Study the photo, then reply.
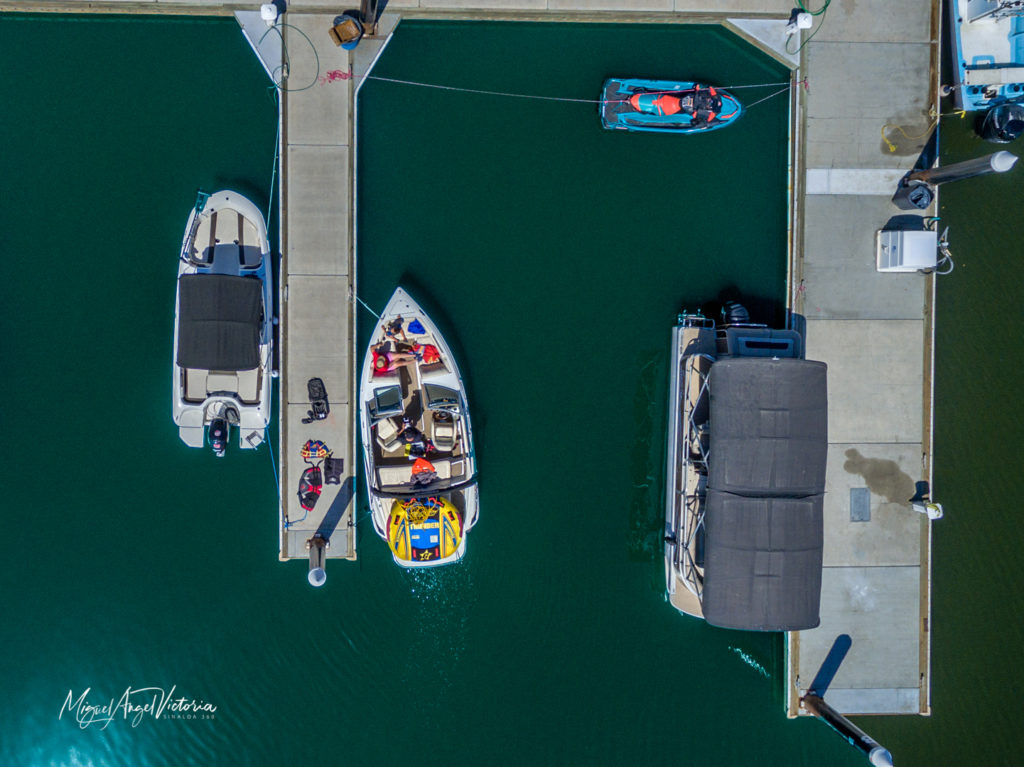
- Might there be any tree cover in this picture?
No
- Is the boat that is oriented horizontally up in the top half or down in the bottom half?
top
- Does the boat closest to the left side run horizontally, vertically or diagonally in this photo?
vertically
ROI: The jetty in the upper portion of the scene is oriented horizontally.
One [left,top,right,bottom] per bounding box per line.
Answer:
[0,0,799,30]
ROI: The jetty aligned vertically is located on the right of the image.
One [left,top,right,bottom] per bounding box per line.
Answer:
[717,0,941,718]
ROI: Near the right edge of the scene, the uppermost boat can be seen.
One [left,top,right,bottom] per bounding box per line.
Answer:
[944,0,1024,147]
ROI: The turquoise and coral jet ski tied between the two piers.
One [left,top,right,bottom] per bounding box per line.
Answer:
[599,79,742,135]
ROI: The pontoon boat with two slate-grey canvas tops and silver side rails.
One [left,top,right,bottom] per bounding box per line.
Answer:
[664,298,827,632]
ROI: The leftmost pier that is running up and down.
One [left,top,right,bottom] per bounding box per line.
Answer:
[235,12,402,561]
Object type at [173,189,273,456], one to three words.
boat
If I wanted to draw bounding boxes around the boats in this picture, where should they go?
[944,0,1024,147]
[173,189,273,456]
[664,298,827,632]
[599,79,742,135]
[360,287,479,567]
